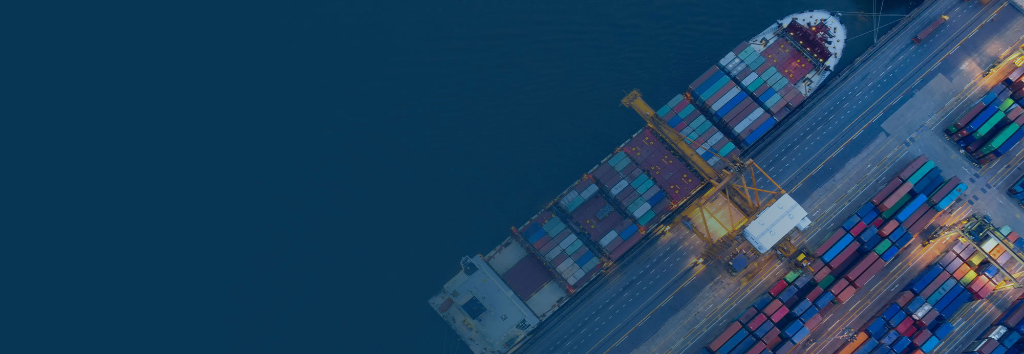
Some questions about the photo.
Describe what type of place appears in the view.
port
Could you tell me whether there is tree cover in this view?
No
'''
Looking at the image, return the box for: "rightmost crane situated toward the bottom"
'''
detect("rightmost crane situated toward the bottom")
[919,213,1024,305]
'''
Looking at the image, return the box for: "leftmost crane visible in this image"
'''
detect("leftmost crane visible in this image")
[617,83,812,268]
